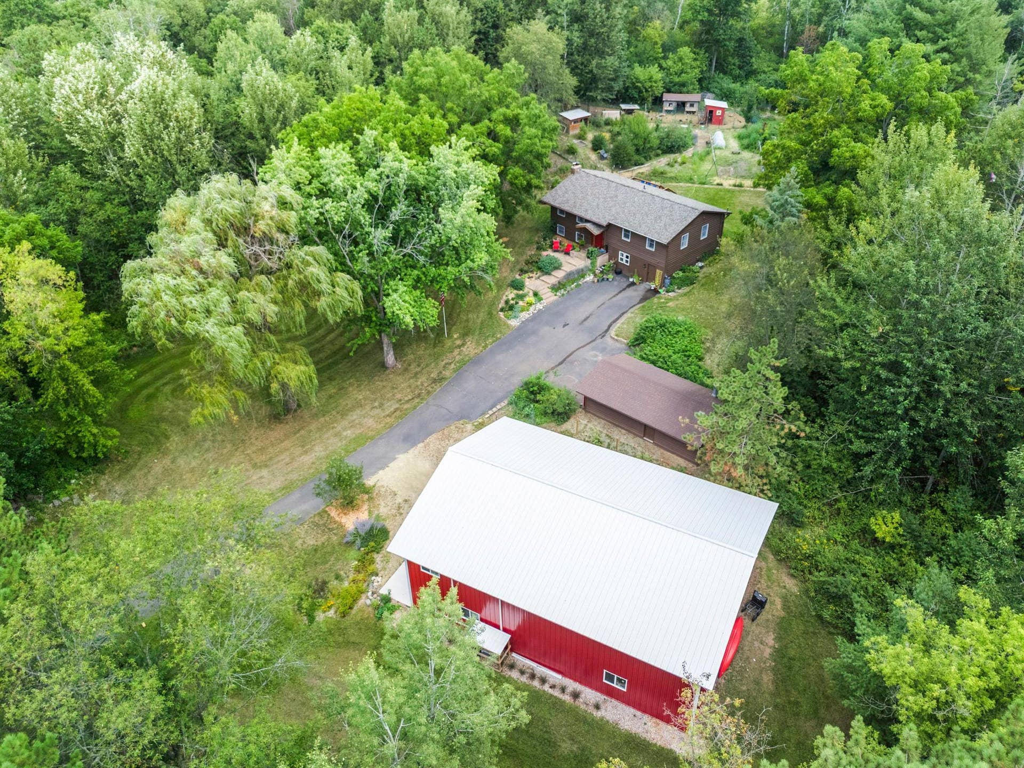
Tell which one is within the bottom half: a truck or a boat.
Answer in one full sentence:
Looking within the bottom half, you will find a boat.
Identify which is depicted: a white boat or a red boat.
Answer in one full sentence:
Looking from above, you can make out a red boat.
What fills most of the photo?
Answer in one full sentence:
For the most part, this view shows trees.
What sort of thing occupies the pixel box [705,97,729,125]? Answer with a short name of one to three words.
shed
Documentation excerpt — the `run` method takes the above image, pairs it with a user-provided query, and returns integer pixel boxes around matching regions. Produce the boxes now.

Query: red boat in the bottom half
[722,613,750,681]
